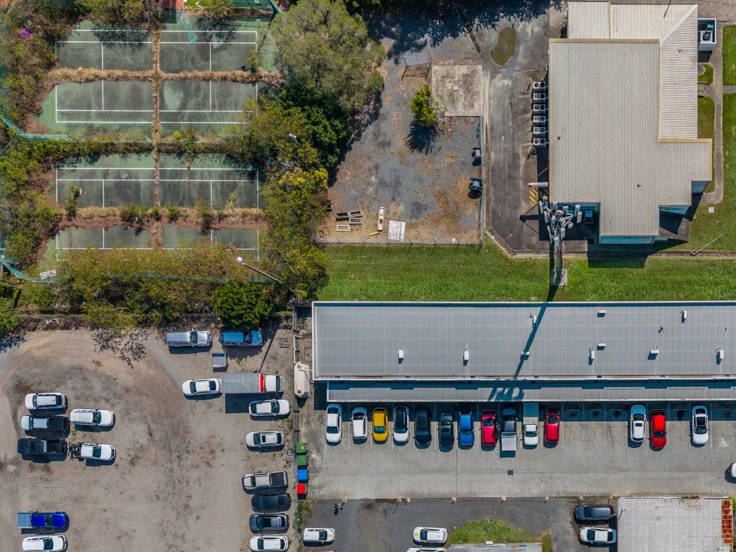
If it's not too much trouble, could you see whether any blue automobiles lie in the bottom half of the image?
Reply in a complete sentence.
Yes, the scene does show a blue automobile in the bottom half of the image.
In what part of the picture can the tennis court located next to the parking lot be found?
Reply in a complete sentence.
The tennis court located next to the parking lot is in the top left part of the image.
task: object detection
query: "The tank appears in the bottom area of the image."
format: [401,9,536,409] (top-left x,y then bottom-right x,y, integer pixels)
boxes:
[296,364,314,397]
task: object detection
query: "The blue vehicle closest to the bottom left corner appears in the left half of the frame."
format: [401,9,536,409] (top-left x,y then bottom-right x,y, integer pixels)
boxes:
[16,511,68,531]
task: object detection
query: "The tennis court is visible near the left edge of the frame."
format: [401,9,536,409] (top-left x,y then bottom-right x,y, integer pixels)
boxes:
[12,0,279,280]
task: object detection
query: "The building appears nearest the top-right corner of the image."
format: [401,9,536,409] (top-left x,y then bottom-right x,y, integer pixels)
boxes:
[546,0,714,242]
